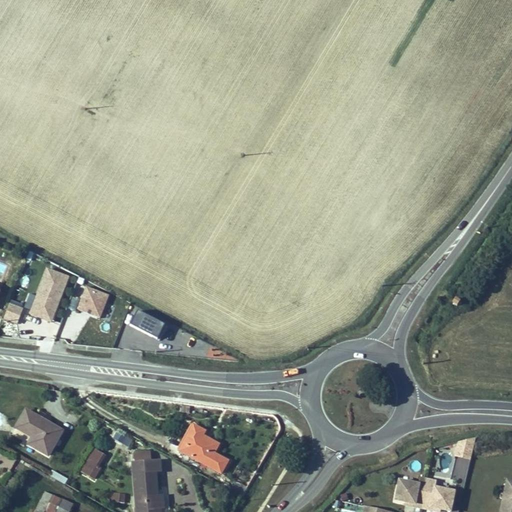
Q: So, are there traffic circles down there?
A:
Yes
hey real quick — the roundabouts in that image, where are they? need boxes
[302,340,416,454]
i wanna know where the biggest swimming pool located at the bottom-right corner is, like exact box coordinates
[440,453,452,472]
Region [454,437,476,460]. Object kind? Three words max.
building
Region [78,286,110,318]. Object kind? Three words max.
house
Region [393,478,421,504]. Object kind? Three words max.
house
